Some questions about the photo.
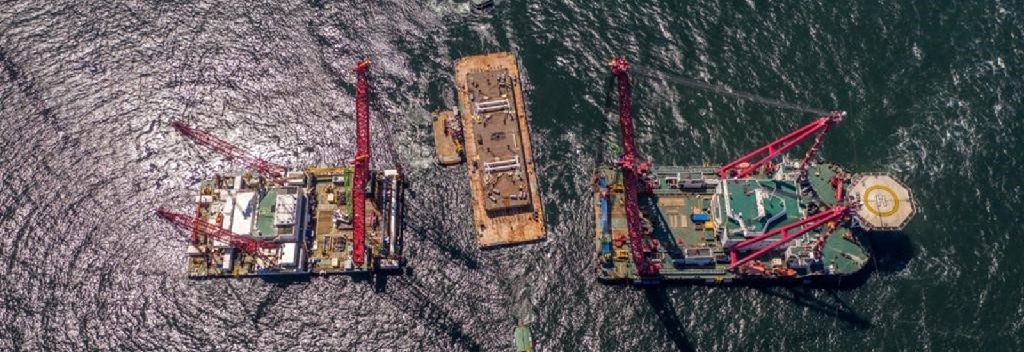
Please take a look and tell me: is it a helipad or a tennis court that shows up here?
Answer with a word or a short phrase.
helipad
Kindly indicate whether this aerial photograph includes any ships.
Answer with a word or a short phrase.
Yes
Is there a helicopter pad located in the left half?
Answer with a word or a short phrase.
No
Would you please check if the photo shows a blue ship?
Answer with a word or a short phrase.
No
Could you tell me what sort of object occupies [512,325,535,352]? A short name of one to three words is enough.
boat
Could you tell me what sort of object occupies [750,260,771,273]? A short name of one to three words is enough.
boat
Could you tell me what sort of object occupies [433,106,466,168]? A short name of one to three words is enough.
ship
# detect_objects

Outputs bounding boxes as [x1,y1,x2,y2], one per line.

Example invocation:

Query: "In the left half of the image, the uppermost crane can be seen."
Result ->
[169,55,402,193]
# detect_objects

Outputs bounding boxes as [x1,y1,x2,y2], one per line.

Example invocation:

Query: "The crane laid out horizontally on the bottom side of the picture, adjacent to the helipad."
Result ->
[592,157,852,283]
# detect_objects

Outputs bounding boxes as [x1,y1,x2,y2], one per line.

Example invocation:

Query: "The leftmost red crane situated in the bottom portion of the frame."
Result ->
[154,146,403,279]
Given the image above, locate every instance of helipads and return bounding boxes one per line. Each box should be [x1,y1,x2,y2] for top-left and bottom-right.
[830,171,917,235]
